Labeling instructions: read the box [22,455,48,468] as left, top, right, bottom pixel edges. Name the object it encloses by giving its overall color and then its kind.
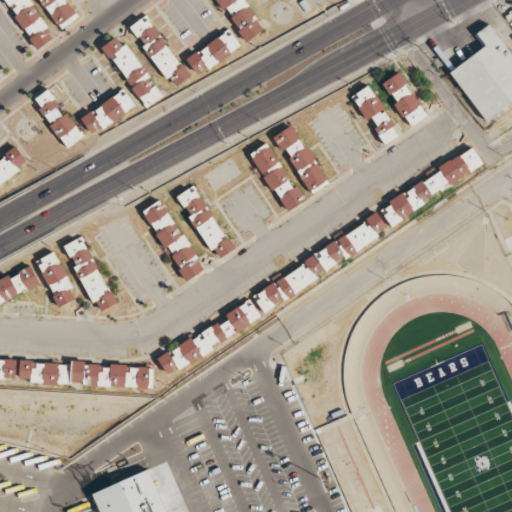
white vehicle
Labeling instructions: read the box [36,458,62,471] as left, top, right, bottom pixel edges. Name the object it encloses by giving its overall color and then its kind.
white vehicle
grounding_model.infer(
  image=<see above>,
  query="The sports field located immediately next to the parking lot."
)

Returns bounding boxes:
[380,312,512,512]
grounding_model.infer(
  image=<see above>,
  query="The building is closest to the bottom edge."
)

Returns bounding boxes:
[92,468,168,512]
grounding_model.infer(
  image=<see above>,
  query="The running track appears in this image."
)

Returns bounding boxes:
[362,294,512,512]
